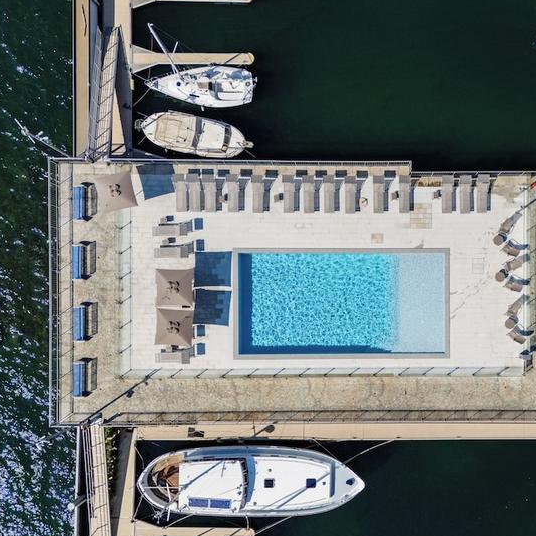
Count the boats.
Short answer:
3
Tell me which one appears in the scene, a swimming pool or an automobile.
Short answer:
swimming pool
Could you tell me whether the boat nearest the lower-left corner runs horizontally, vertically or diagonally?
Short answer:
horizontally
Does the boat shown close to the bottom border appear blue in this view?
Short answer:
No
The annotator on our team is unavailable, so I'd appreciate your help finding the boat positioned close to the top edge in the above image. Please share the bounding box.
[131,22,259,143]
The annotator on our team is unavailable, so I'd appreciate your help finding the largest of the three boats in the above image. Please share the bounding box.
[134,438,391,530]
